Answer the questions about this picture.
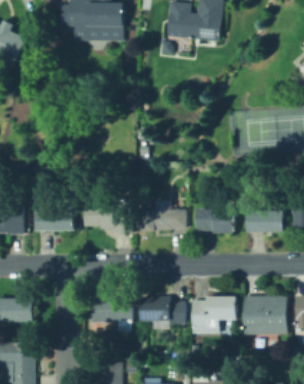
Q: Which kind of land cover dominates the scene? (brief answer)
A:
trees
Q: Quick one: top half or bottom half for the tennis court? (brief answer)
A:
top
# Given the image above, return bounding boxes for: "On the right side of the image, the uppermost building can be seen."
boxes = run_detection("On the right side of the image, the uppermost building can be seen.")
[162,0,222,54]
